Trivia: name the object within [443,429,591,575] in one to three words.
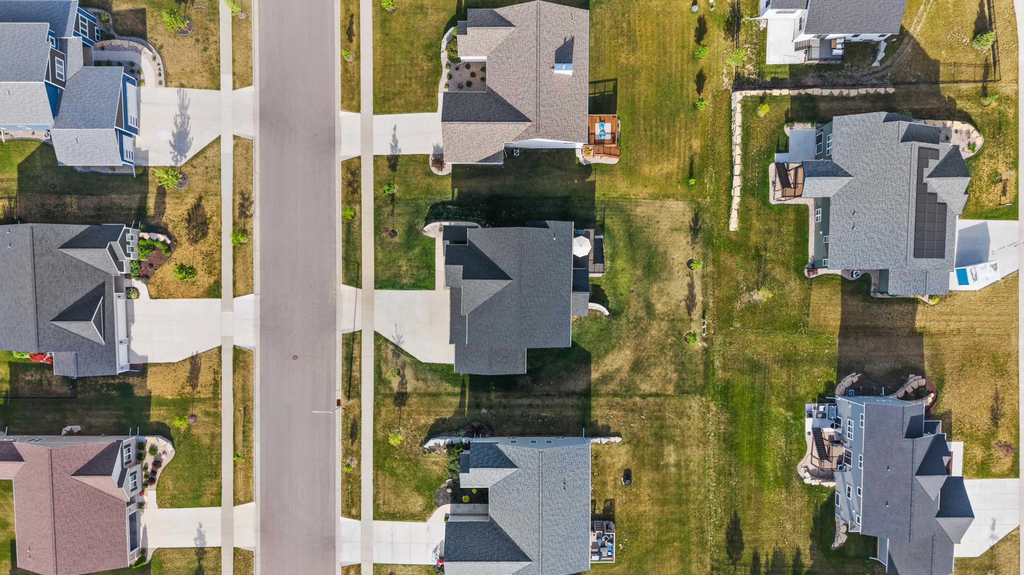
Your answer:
house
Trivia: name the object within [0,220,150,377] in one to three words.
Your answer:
house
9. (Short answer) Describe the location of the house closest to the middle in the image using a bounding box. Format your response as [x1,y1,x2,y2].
[442,220,590,375]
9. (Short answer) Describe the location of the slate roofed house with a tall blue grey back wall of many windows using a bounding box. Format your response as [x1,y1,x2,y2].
[824,386,974,575]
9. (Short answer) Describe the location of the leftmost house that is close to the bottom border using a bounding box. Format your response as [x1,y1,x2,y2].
[0,427,143,575]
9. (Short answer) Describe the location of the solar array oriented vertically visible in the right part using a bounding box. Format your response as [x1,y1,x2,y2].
[915,148,945,259]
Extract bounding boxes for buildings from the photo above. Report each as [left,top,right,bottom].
[751,0,907,43]
[442,0,590,171]
[803,111,972,294]
[824,386,974,575]
[0,220,150,377]
[442,220,590,375]
[443,429,591,575]
[0,0,142,176]
[0,427,143,575]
